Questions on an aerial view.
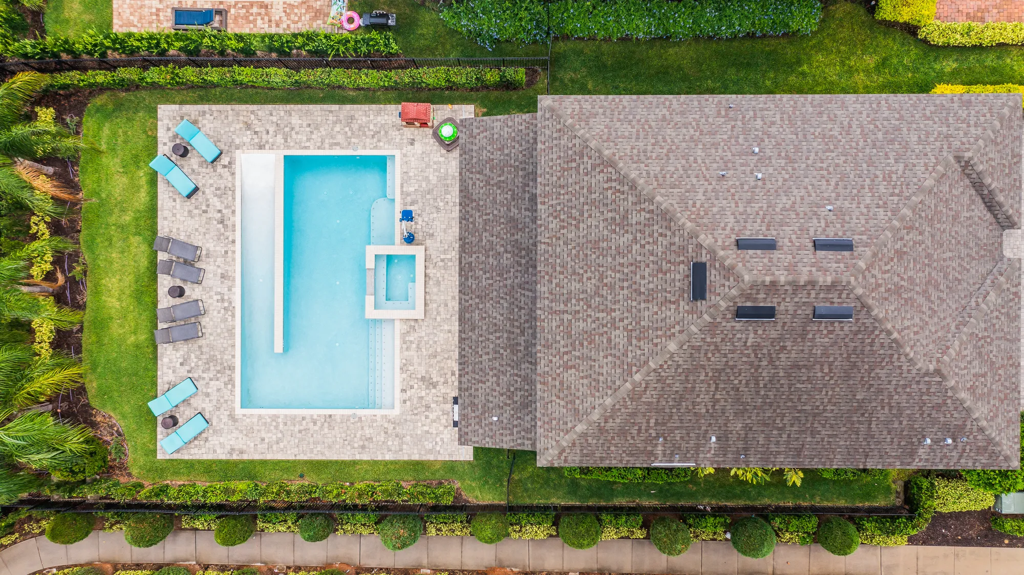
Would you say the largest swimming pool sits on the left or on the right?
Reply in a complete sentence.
The largest swimming pool is on the left side of the image.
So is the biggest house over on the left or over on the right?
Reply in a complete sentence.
The biggest house is on the right side of the image.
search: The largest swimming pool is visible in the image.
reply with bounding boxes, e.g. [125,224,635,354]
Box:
[236,145,400,419]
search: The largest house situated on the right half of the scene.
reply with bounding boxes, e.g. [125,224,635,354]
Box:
[459,93,1023,468]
